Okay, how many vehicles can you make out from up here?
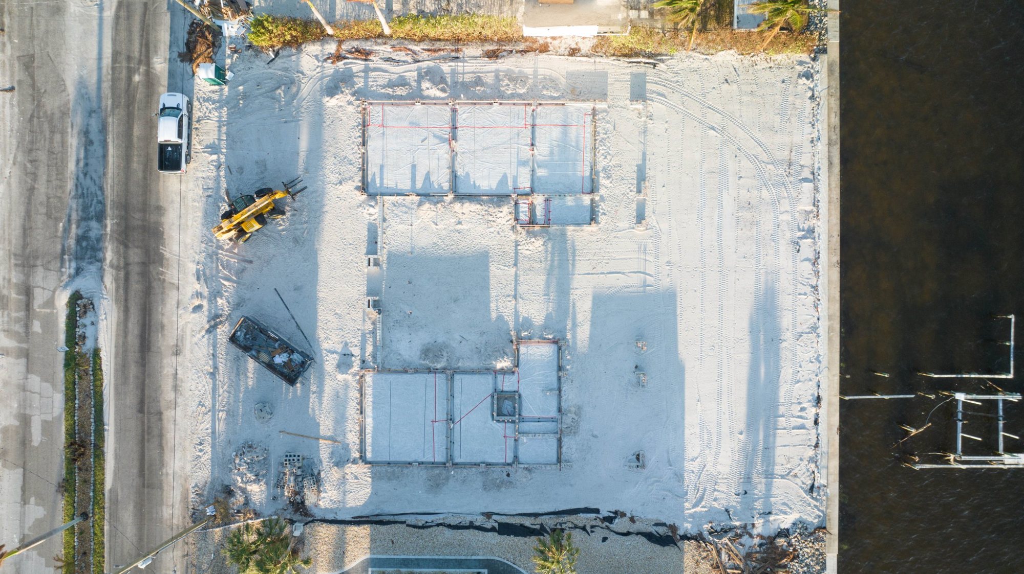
2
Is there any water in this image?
Yes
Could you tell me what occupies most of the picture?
paved ground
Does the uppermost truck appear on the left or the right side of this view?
left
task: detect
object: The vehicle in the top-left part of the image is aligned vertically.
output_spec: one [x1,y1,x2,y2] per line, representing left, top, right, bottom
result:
[152,93,192,174]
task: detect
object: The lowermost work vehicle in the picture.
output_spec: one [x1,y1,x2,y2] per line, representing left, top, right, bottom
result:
[211,176,310,243]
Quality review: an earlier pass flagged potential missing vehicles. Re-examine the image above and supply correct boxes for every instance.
[211,176,310,243]
[152,93,192,174]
